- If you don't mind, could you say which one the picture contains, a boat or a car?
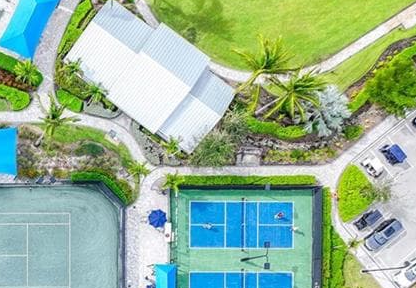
car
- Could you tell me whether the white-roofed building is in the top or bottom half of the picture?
top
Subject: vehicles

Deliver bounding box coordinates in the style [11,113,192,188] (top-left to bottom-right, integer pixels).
[363,158,388,178]
[396,266,416,288]
[383,146,410,165]
[355,209,387,231]
[364,219,407,250]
